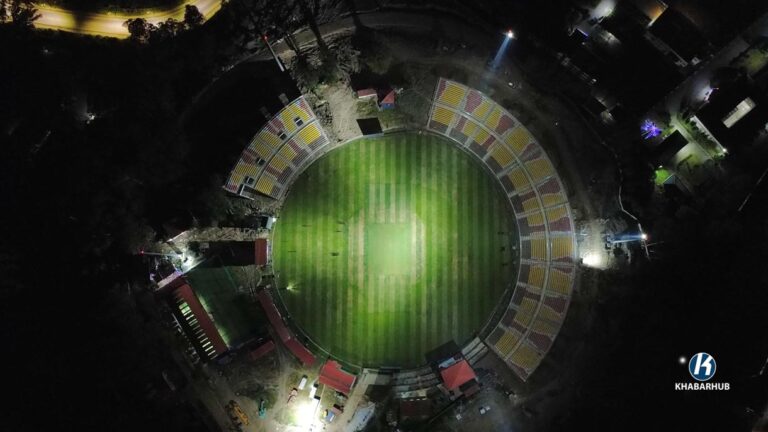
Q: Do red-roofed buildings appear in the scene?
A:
Yes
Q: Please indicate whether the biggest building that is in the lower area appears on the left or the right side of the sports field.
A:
left of it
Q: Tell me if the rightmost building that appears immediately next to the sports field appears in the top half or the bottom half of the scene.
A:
bottom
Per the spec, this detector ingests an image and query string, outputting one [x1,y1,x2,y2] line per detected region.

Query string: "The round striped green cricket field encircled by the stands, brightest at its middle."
[274,134,518,368]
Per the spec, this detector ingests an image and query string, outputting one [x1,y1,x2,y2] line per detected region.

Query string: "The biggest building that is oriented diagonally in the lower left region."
[164,283,230,363]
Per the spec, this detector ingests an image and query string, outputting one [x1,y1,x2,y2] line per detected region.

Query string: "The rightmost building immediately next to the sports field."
[440,352,479,397]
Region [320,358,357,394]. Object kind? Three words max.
building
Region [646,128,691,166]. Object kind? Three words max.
house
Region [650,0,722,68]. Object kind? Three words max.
house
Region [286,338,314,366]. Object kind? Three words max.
building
